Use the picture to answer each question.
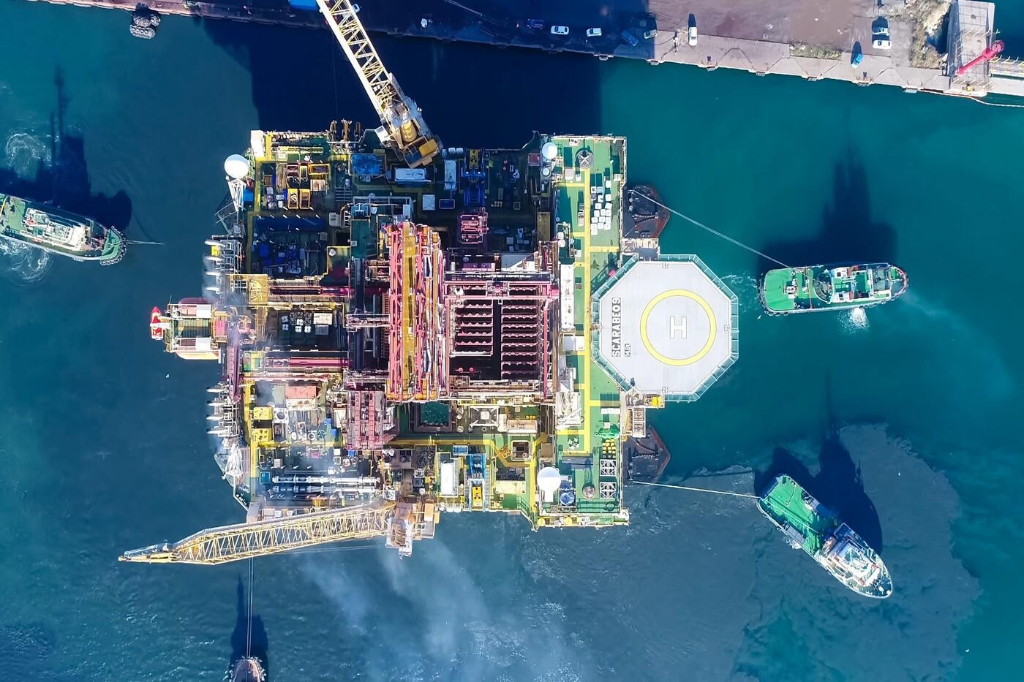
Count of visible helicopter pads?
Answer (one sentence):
Just 1 helicopter pad appears in this view.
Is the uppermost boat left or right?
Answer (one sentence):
You can find the uppermost boat on the left side of the picture.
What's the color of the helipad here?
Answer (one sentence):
The helipad is white.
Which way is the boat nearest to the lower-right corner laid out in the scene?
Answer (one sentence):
In this picture, the boat nearest to the lower-right corner is oriented at an angle.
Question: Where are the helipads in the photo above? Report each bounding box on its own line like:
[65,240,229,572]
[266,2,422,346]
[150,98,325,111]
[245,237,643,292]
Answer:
[590,240,739,439]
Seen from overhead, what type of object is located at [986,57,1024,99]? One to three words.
pier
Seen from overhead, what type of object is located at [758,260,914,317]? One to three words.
boat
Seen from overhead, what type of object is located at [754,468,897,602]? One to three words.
boat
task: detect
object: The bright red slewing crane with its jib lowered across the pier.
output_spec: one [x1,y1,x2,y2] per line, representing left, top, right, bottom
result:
[952,39,1007,77]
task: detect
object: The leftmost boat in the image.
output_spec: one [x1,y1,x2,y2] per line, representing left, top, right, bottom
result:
[0,191,124,264]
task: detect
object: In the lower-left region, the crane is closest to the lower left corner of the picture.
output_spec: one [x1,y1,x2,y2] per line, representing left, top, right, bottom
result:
[118,495,440,565]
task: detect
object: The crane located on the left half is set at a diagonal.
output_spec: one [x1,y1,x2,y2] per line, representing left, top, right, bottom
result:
[315,0,442,170]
